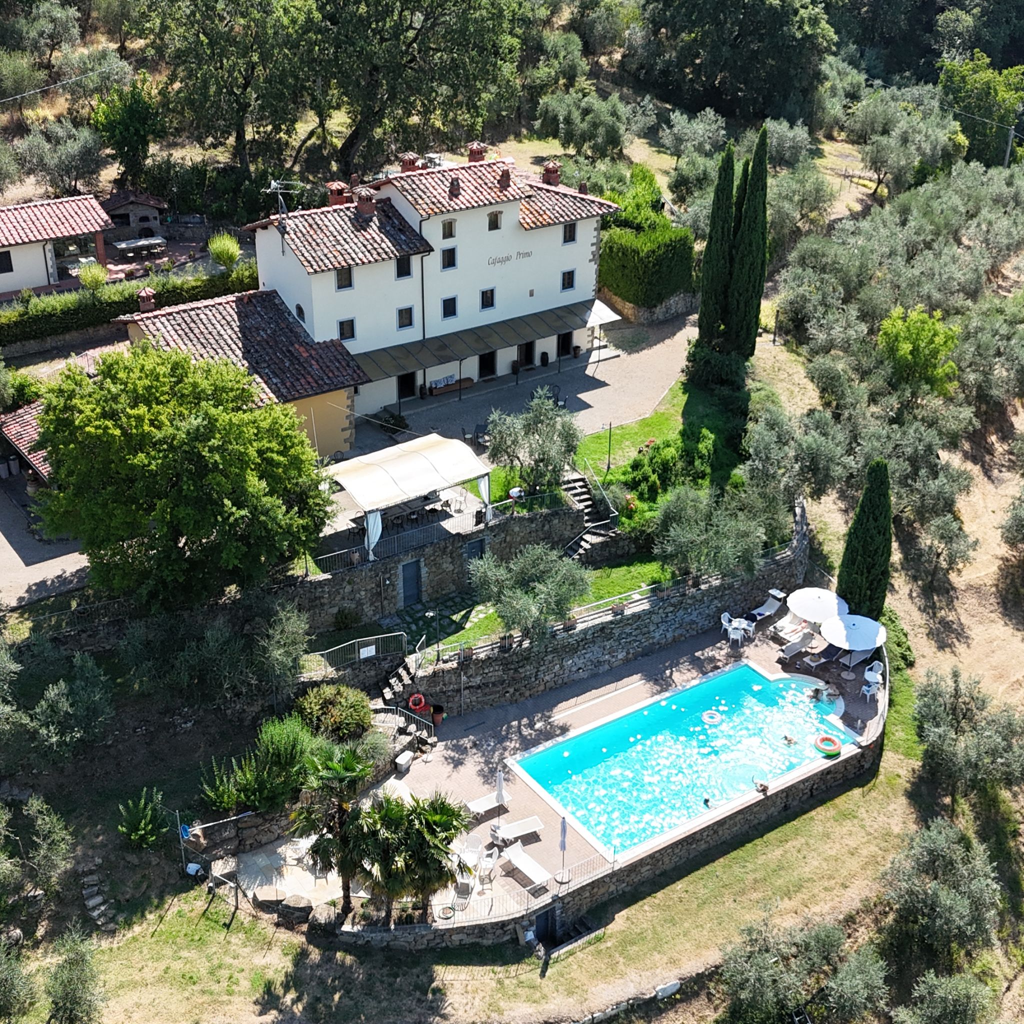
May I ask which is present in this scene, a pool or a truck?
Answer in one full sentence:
I can see a pool in this picture.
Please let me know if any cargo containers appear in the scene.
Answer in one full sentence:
No, no cargo container is visible in the scene.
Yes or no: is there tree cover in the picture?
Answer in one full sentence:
Yes, there's tree cover in this view.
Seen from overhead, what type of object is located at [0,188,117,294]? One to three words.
building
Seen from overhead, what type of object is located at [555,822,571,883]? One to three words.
umbrella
